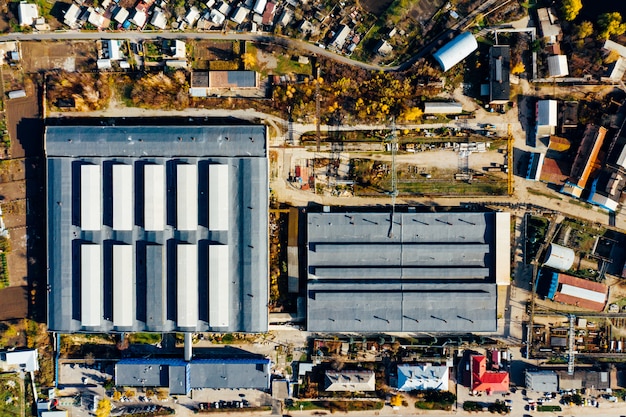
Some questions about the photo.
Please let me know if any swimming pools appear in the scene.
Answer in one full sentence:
No, the photo shows no swimming pool.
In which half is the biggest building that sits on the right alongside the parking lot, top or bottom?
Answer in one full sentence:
Seen from above, the biggest building that sits on the right alongside the parking lot lies in the bottom half of the view.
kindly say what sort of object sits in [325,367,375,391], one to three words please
house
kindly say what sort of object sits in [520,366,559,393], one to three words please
building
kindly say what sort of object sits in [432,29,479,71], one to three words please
hangar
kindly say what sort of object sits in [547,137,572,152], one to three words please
shed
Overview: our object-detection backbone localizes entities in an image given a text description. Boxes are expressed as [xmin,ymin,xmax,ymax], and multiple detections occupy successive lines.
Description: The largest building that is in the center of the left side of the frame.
[46,124,270,333]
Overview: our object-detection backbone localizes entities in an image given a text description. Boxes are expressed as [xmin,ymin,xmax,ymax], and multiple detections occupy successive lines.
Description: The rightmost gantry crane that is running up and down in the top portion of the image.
[493,123,513,197]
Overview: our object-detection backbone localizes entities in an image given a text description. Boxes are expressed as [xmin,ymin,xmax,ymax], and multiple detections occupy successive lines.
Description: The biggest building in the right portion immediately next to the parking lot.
[307,212,510,332]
